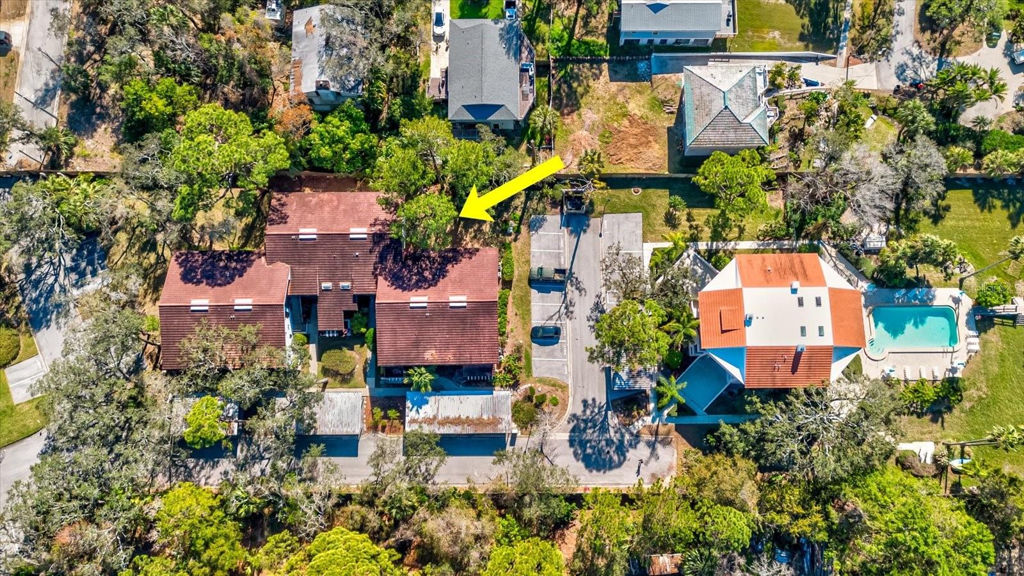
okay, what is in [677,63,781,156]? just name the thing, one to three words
house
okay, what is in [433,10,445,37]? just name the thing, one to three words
vehicle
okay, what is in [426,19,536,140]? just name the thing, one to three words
house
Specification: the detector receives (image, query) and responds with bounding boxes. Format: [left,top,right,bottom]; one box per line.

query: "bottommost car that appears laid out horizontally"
[530,326,561,341]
